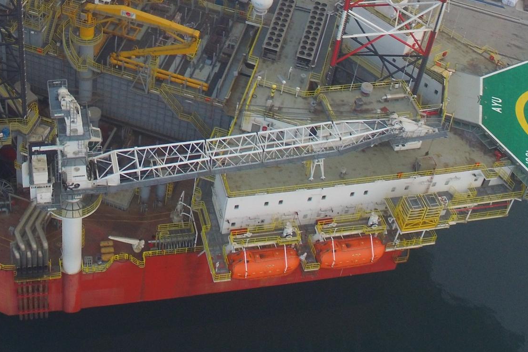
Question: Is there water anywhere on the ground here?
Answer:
Yes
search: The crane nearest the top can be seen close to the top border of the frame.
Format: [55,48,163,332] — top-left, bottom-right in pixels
[52,0,198,110]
